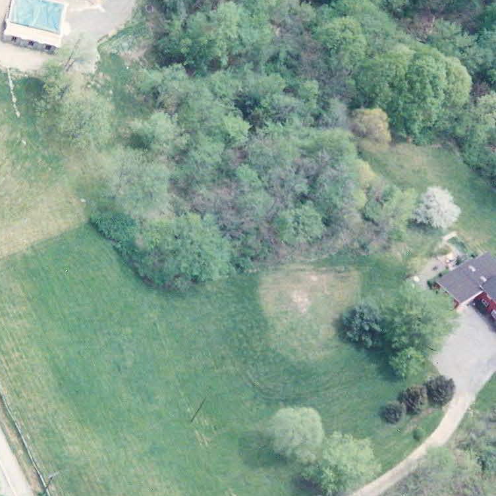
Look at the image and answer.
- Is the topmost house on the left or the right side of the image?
left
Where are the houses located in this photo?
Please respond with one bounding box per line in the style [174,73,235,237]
[2,0,70,54]
[439,247,496,315]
